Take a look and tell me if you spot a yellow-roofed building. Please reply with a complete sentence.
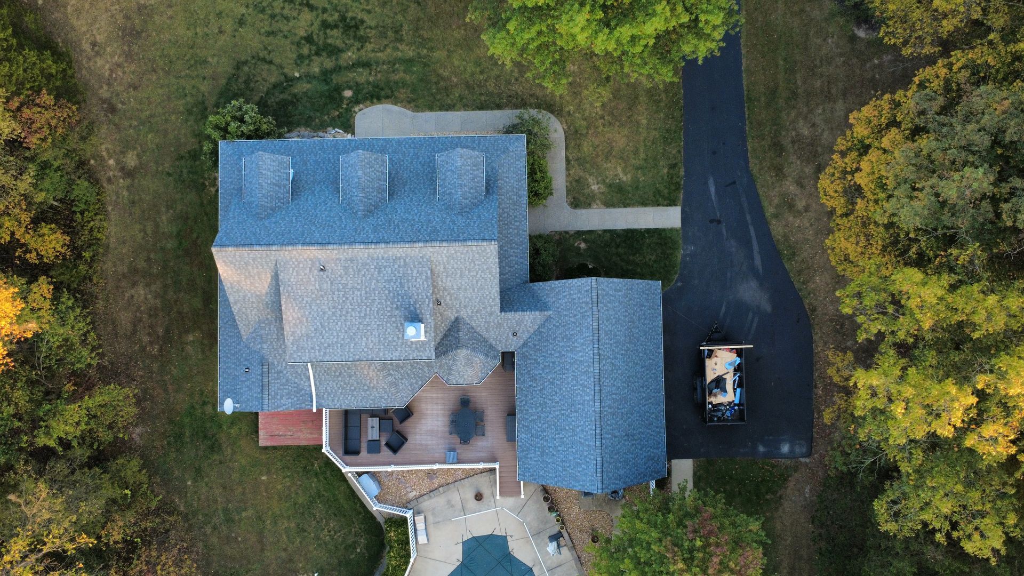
No, the picture doesn't show any yellow-roofed building.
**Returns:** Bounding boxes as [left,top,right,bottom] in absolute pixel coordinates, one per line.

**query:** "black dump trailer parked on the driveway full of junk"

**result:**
[694,318,747,425]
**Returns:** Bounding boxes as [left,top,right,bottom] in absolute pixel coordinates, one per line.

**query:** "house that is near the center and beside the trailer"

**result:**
[212,133,670,492]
